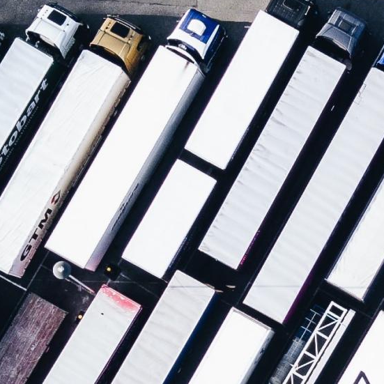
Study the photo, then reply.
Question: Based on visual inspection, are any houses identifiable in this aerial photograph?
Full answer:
No, no house is visible in the view.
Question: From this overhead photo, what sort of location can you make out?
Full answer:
The picture captures a parking lot.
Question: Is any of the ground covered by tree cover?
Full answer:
No, the picture contains no tree cover.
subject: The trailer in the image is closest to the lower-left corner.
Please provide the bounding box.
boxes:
[0,295,68,384]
